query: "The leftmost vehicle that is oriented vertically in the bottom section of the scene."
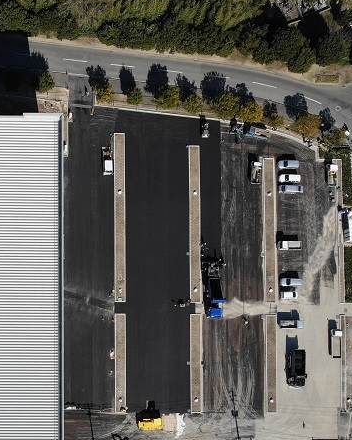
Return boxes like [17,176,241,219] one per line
[207,277,224,317]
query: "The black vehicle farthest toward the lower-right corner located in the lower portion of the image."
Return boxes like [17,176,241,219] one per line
[287,349,304,387]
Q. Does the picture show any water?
No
